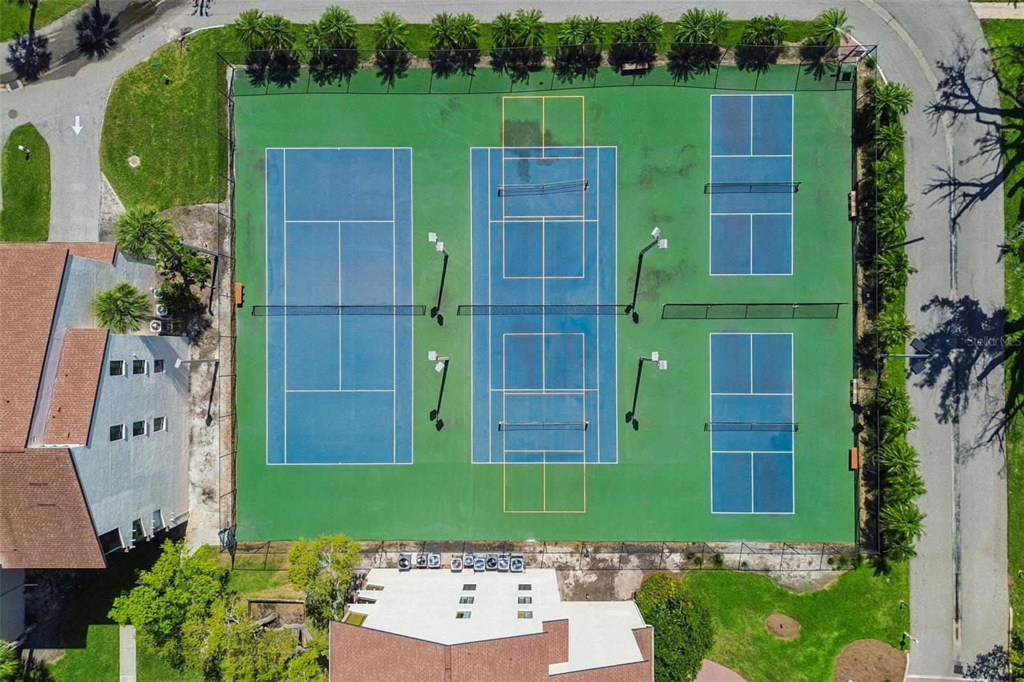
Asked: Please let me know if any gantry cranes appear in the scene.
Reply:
No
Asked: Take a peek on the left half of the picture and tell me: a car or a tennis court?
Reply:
tennis court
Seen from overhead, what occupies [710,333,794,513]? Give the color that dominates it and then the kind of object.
blue sports court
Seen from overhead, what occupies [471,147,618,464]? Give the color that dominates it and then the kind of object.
blue tennis court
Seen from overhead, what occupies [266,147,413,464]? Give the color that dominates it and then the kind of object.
blue tennis court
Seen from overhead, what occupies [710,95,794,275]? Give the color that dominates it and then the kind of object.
blue sports court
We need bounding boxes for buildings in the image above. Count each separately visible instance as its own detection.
[0,241,190,568]
[327,569,655,682]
